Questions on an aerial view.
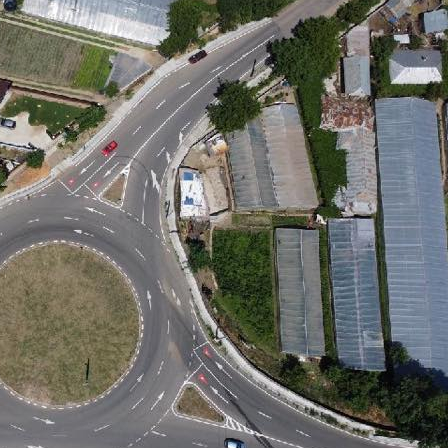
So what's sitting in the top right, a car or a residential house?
residential house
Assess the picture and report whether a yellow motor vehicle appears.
No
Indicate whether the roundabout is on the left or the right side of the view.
left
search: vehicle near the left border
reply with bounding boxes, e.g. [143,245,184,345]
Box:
[0,117,18,129]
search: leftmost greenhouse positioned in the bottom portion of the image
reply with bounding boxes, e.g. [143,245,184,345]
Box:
[273,228,325,357]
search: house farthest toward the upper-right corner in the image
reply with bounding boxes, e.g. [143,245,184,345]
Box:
[417,7,448,35]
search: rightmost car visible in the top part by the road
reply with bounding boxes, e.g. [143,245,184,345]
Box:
[187,48,208,65]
